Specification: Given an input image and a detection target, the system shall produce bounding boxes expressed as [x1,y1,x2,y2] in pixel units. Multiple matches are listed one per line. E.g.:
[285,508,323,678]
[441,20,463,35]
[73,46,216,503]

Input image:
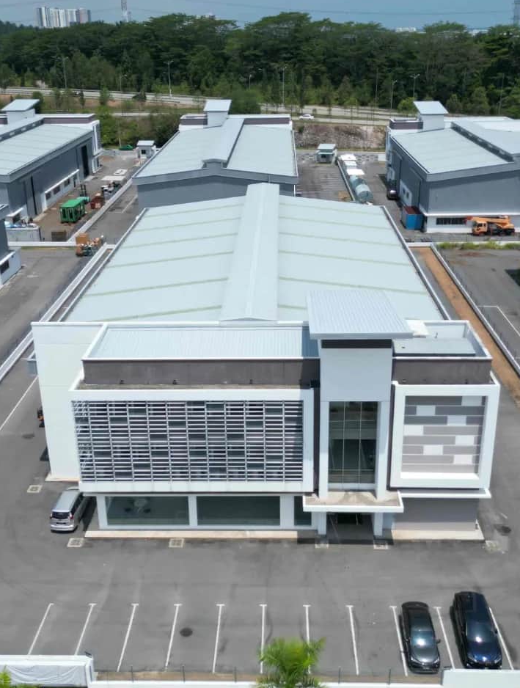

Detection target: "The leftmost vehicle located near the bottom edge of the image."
[397,598,443,667]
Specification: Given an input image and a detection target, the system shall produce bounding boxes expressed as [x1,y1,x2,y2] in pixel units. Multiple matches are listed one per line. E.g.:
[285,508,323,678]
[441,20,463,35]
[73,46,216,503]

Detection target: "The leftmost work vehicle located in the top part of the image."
[73,230,98,255]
